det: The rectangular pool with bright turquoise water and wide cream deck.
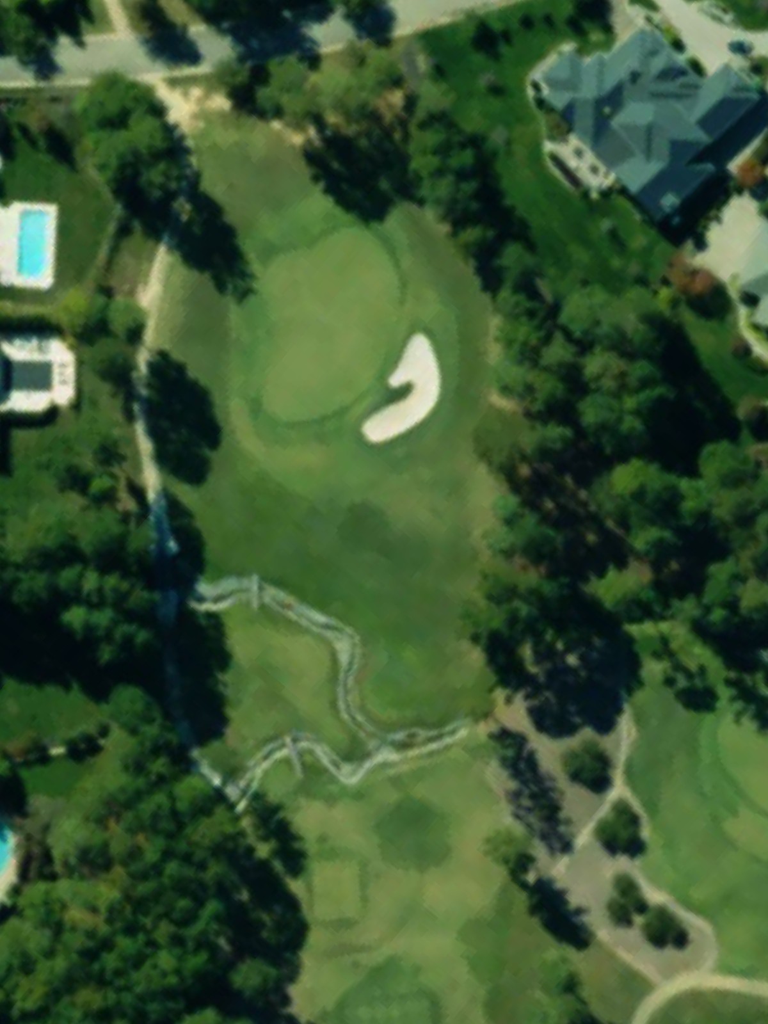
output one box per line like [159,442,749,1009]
[0,202,59,289]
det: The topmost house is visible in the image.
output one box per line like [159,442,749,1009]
[538,23,762,221]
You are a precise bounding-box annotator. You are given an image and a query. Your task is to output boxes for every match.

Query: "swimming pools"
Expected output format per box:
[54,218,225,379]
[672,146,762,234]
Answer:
[0,813,15,902]
[0,335,76,412]
[0,202,59,289]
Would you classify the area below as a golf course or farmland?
golf course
